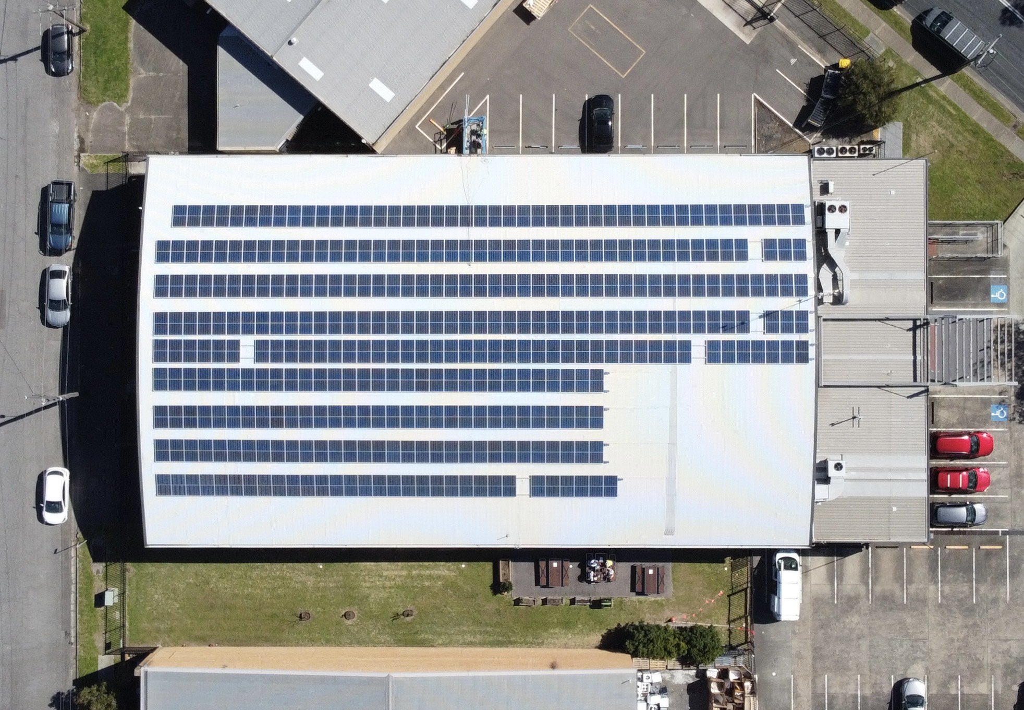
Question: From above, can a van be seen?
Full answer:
Yes, you can see a van in this photo.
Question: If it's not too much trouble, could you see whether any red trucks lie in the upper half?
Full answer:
No, looking in the upper half, there is no red truck.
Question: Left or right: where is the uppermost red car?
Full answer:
It is on the right.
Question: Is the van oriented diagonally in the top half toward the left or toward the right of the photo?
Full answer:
It is on the right.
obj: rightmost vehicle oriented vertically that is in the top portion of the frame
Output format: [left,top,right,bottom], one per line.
[588,94,616,153]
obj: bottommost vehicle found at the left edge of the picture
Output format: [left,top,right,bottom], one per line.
[42,466,71,523]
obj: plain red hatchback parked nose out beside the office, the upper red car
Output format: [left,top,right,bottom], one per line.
[930,431,992,459]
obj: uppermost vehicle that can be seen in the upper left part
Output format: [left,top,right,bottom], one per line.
[47,23,75,78]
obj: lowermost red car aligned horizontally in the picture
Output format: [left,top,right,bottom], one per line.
[930,466,989,493]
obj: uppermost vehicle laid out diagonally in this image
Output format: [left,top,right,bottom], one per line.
[921,9,985,64]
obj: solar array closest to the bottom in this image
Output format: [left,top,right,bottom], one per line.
[156,474,623,496]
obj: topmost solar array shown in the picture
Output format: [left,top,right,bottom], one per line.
[171,204,810,226]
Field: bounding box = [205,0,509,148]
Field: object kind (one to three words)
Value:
building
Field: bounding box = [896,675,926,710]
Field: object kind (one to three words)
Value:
car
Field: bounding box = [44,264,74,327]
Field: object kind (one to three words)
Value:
car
